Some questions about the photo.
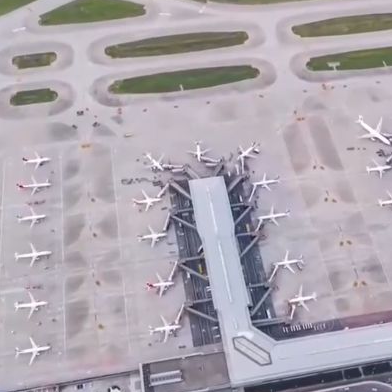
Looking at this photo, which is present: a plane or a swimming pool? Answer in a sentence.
There is a plane in the scene.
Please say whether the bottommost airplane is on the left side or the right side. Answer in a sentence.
The bottommost airplane sits on the left side.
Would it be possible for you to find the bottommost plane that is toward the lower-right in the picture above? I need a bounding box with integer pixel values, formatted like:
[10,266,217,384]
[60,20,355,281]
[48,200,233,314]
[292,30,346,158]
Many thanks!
[289,284,316,311]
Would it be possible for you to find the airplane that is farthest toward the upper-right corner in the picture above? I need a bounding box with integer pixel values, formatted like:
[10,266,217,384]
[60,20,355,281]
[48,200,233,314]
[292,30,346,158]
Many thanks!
[355,114,389,143]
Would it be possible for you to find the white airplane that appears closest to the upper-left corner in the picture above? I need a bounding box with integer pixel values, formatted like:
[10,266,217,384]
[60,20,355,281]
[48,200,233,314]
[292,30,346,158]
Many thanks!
[24,150,50,168]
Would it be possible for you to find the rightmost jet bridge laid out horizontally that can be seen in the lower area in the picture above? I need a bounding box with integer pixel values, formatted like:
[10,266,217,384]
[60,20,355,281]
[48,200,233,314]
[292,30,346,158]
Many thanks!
[254,303,295,326]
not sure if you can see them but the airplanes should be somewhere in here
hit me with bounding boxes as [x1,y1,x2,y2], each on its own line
[275,249,302,272]
[16,241,52,266]
[18,175,51,195]
[139,226,167,248]
[137,190,161,211]
[369,158,391,177]
[16,291,48,317]
[187,143,210,162]
[24,150,50,168]
[146,271,175,297]
[144,153,164,170]
[151,314,180,342]
[238,143,258,158]
[260,203,288,225]
[355,114,389,143]
[17,206,47,228]
[16,334,50,364]
[289,284,316,311]
[253,171,280,191]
